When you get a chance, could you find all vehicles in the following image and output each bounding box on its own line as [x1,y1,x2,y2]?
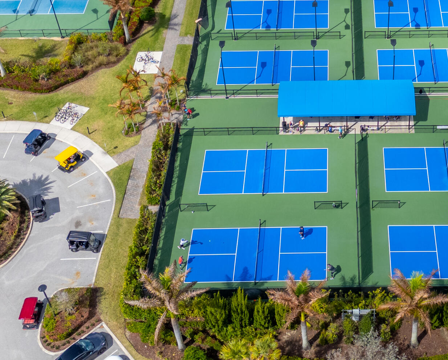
[18,299,47,332]
[65,231,101,253]
[53,331,110,360]
[21,129,51,154]
[97,353,123,360]
[56,148,85,174]
[29,192,48,220]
